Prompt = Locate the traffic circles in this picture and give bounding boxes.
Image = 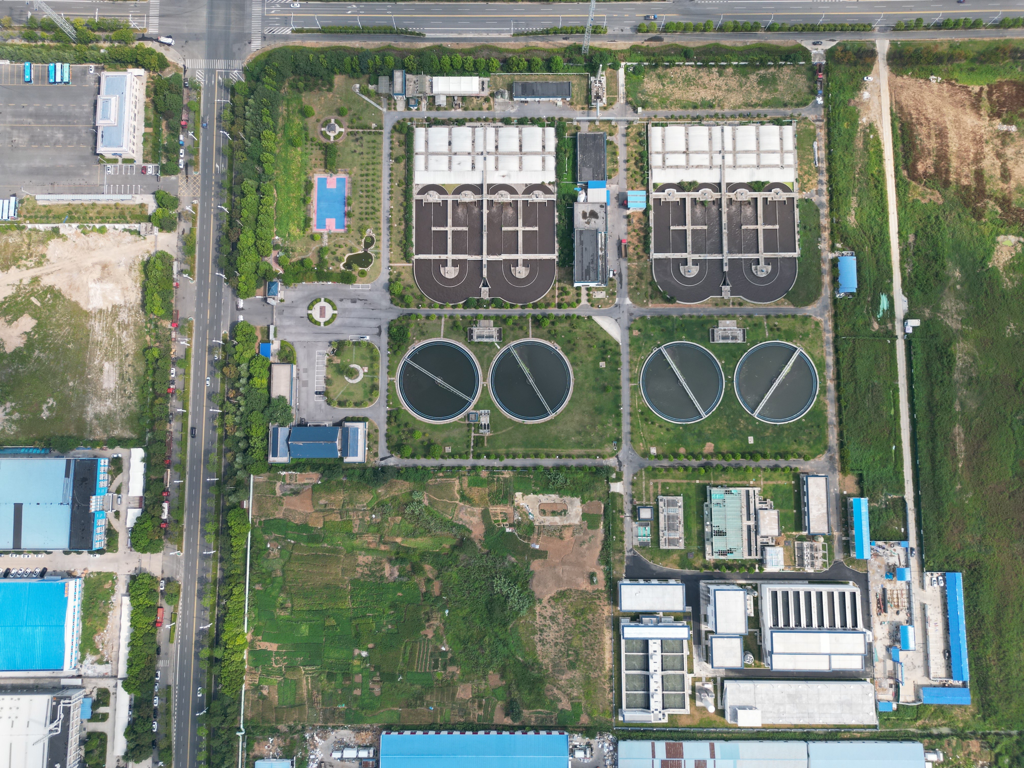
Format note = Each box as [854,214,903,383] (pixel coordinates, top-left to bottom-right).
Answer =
[308,297,337,327]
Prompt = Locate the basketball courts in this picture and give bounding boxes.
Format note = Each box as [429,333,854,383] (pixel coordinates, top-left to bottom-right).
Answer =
[313,174,349,232]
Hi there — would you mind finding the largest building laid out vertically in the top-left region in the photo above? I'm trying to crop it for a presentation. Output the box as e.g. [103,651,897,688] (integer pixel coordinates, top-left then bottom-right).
[97,72,138,159]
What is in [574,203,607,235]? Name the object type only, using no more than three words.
house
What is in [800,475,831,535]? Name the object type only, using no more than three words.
building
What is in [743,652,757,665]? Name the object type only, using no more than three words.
cooling tower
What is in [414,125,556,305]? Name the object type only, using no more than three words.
storage tank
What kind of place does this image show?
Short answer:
industrial area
